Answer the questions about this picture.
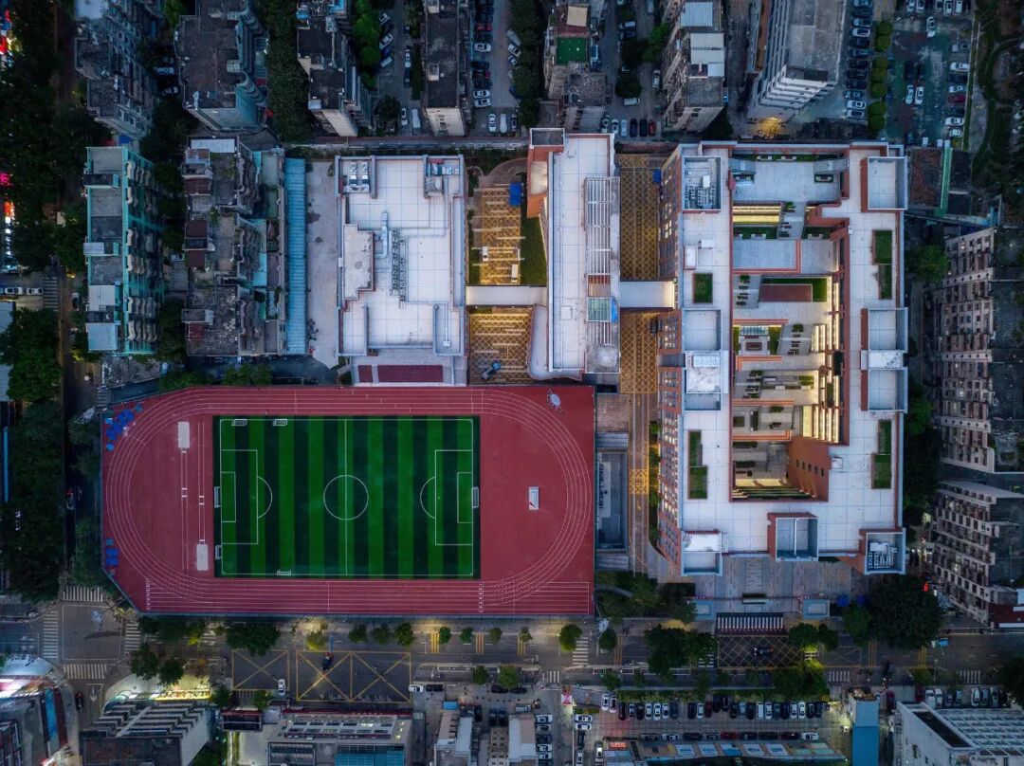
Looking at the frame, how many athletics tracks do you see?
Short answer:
1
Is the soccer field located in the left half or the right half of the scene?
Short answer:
left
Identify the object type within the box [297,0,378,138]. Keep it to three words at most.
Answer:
building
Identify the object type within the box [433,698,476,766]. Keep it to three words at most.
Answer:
house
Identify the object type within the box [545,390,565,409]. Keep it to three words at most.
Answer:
umbrella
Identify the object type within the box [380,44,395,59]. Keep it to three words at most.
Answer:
car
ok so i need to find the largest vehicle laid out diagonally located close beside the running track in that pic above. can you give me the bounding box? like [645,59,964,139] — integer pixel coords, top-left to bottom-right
[476,357,502,382]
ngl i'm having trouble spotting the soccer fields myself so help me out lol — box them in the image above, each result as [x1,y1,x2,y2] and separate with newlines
[212,416,480,579]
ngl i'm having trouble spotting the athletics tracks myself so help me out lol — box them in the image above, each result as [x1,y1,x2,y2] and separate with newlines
[101,384,596,615]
